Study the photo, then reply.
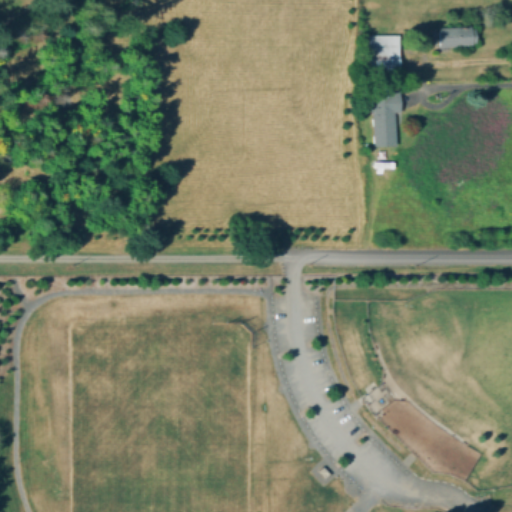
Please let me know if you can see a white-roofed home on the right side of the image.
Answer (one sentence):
Yes, a white-roofed home is visible on the right side of the image.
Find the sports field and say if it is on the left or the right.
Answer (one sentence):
You can find the sports field on the left side of the picture.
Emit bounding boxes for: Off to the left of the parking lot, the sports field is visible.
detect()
[64,315,260,512]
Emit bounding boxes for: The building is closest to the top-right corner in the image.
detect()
[440,28,478,50]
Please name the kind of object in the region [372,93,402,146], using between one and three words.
house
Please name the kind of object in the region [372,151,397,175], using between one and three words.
house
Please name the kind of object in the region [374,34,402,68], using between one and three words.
barn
